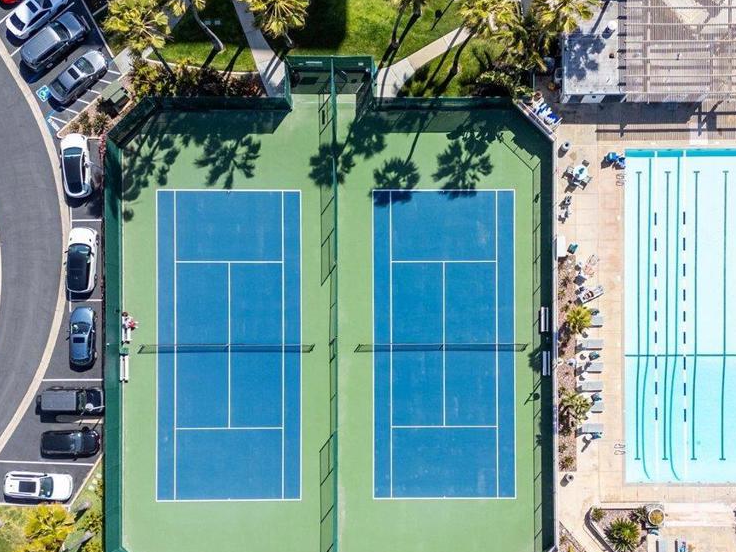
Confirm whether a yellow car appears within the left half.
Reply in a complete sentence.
No, I see no yellow car within the left half.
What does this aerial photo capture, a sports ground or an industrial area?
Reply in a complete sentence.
The picture captures a sports ground.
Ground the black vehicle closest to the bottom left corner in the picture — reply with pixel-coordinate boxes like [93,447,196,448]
[38,430,103,459]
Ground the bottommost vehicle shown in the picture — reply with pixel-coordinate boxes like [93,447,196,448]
[1,471,76,502]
